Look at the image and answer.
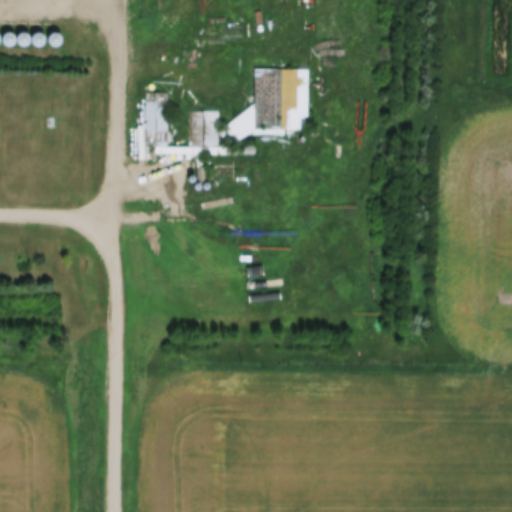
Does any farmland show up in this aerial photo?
Yes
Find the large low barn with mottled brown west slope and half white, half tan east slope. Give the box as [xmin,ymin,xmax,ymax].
[227,68,310,140]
